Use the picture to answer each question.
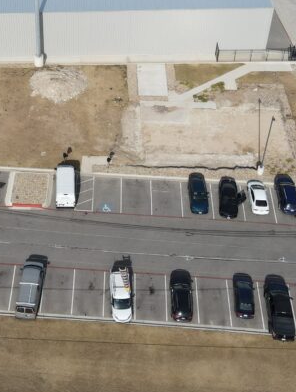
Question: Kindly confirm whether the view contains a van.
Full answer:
Yes, there's a van here.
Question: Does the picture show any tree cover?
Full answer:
No, the scene doesn't show any tree cover.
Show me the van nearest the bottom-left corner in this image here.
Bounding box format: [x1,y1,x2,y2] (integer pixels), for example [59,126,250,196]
[17,260,46,317]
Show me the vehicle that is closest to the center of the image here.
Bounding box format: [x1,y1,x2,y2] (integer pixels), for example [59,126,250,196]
[188,174,211,214]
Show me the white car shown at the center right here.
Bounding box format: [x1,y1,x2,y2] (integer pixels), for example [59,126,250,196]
[245,177,269,215]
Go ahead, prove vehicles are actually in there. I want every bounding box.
[217,178,247,218]
[262,278,296,341]
[110,264,136,322]
[274,175,296,215]
[168,272,194,321]
[17,260,46,317]
[245,177,269,215]
[55,163,79,208]
[188,174,211,214]
[229,271,255,318]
